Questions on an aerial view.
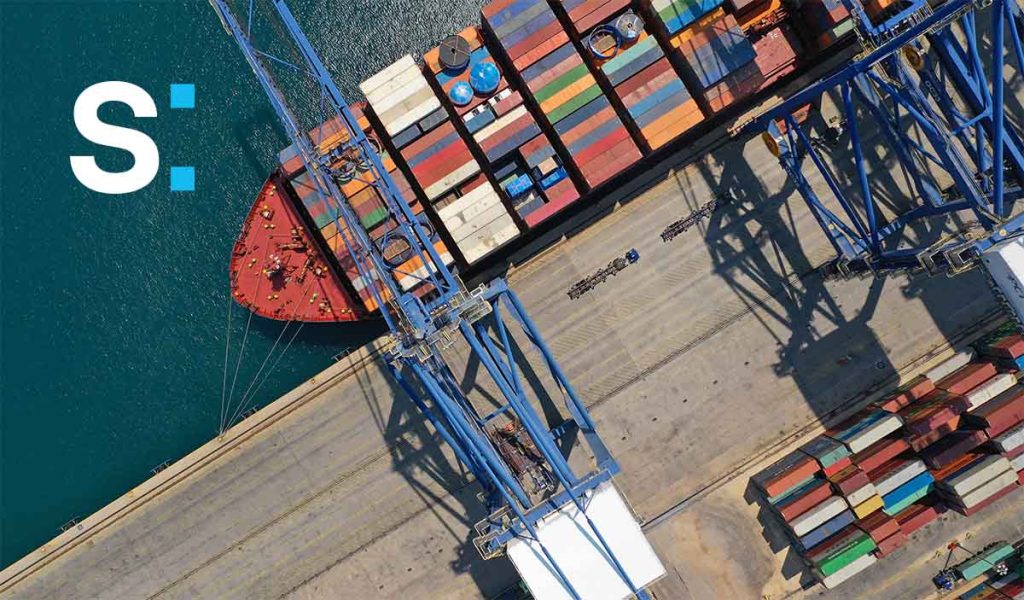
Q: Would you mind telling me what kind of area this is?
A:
port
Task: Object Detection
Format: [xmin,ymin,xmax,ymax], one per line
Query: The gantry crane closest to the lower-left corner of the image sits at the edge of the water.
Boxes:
[203,0,668,600]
